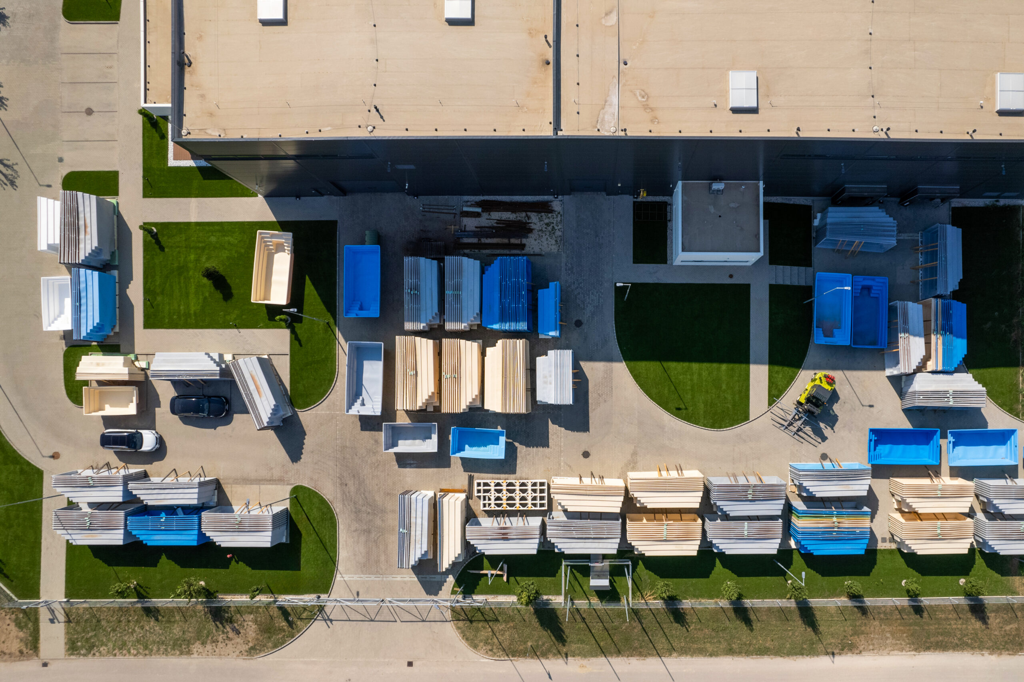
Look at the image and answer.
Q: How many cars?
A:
two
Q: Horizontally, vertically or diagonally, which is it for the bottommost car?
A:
horizontally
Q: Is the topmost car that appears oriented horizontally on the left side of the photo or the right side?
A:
left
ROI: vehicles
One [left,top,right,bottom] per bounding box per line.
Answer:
[788,369,839,432]
[95,426,163,455]
[169,392,232,421]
